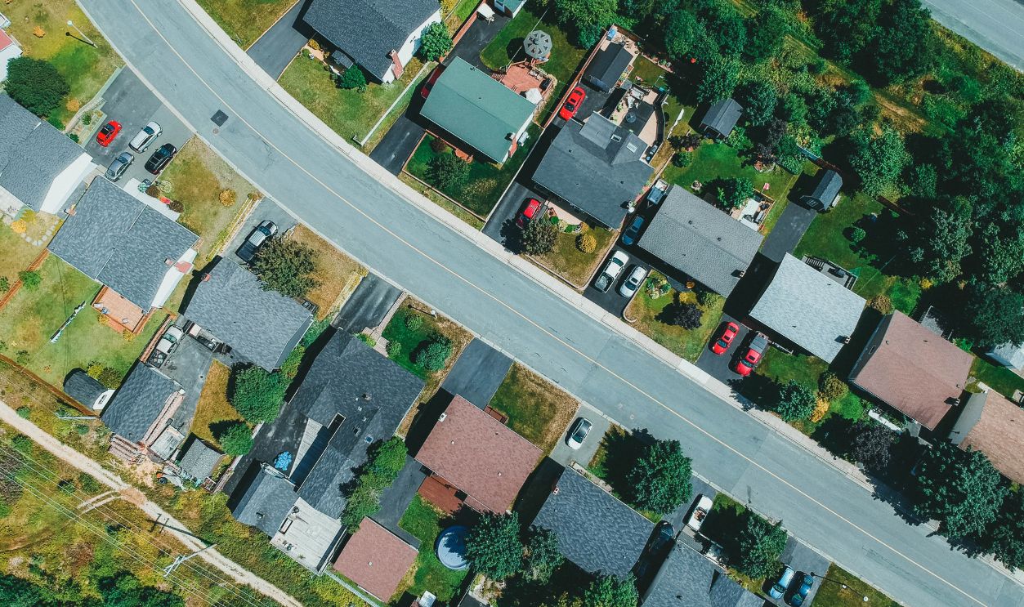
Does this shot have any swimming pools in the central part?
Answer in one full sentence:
No, looking in the central part, there is no swimming pool.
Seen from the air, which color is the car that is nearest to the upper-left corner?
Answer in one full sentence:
The car that is nearest to the upper-left corner is red.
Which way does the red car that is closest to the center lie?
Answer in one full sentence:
The red car that is closest to the center is laid out at an angle.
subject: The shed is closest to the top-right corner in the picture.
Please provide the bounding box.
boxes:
[797,167,844,211]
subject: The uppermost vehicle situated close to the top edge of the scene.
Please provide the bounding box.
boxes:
[478,2,497,23]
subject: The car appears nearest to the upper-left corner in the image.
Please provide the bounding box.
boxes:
[95,119,123,149]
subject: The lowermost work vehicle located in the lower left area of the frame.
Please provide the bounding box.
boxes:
[158,469,170,484]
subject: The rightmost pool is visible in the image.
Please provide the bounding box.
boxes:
[435,525,477,570]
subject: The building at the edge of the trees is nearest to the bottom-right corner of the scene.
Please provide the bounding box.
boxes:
[946,389,1024,485]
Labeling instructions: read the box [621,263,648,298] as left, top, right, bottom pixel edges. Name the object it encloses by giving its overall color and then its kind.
white car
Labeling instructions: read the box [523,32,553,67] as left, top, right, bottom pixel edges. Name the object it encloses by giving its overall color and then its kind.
gray gazebo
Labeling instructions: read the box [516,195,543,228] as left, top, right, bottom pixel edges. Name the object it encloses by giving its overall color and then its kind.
red car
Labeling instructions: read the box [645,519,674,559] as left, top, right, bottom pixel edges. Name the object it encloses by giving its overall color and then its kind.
black car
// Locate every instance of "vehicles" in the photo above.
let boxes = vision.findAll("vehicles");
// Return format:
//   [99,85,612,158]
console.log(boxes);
[95,119,123,149]
[621,263,648,298]
[645,519,674,559]
[105,150,135,183]
[735,330,771,376]
[148,325,185,367]
[236,219,277,263]
[158,469,170,484]
[711,320,740,355]
[559,87,586,120]
[129,119,163,155]
[145,141,177,177]
[788,571,816,607]
[769,563,798,599]
[596,250,628,293]
[516,195,543,228]
[567,416,592,451]
[621,213,645,246]
[415,65,442,98]
[685,494,714,530]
